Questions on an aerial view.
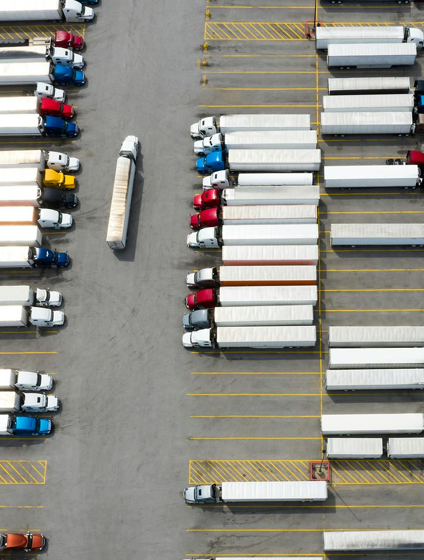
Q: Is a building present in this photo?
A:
No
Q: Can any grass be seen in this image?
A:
No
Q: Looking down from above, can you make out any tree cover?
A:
No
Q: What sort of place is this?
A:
parking lot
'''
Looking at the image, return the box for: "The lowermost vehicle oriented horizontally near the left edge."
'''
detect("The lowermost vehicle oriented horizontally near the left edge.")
[3,532,46,553]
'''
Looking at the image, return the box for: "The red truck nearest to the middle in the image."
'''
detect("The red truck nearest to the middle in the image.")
[185,288,220,310]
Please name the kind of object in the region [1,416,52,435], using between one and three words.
vehicle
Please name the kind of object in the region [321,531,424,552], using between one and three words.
trailer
